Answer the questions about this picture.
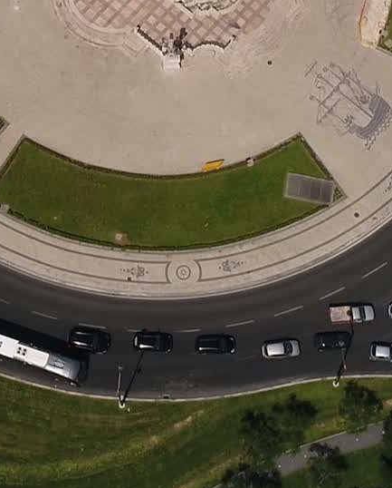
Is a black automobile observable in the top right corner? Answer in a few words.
No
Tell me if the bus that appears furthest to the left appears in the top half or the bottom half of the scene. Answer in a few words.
bottom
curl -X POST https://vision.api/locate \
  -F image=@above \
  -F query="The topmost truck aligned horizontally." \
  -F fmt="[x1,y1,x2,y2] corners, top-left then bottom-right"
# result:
[331,303,376,325]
